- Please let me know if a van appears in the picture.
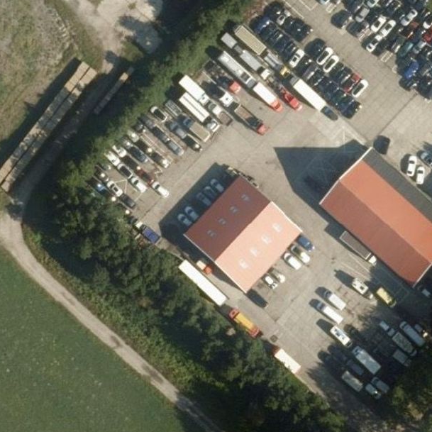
Yes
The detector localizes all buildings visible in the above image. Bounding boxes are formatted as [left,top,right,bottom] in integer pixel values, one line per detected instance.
[320,147,432,288]
[183,174,303,293]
